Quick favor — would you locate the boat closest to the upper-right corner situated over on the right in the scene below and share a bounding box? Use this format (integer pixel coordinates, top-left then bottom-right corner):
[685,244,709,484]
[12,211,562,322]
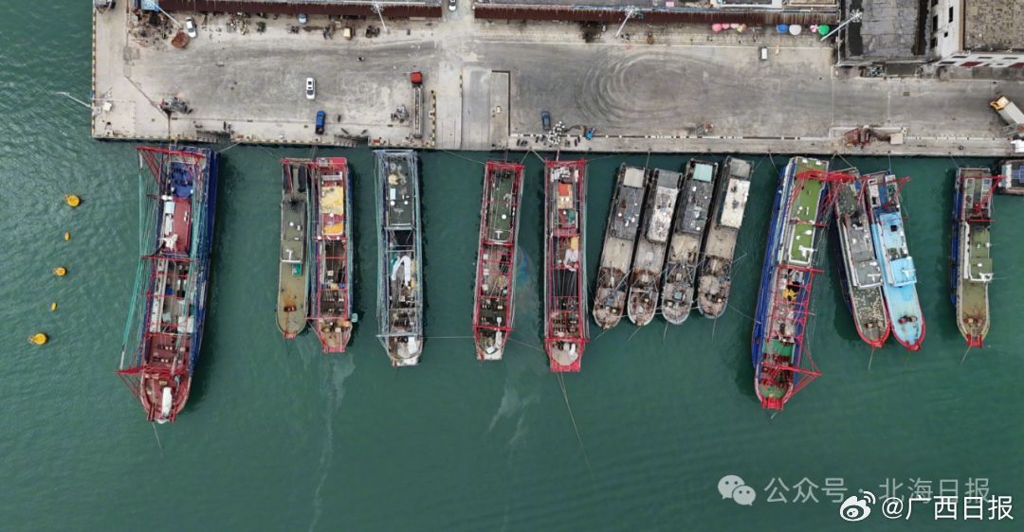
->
[988,160,1024,197]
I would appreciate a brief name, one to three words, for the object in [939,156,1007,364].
boat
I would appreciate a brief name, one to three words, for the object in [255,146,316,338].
boat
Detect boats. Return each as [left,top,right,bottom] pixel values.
[751,153,860,422]
[829,155,889,369]
[372,147,466,366]
[446,150,547,361]
[255,146,316,338]
[114,139,235,445]
[988,160,1024,197]
[626,169,682,326]
[657,161,718,337]
[533,150,648,476]
[304,147,359,353]
[939,156,1007,364]
[588,154,650,330]
[855,170,925,350]
[695,153,775,332]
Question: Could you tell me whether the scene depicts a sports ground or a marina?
marina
